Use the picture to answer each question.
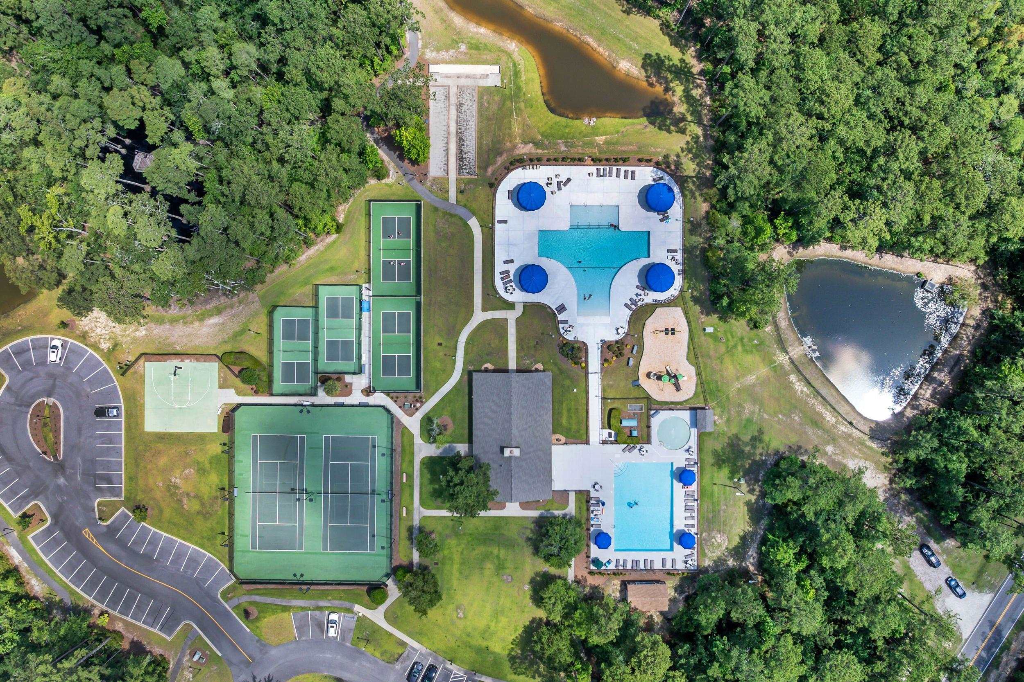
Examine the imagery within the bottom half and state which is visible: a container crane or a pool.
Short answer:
pool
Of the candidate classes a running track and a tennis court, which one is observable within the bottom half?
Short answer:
tennis court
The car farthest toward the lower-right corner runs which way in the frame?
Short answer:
diagonally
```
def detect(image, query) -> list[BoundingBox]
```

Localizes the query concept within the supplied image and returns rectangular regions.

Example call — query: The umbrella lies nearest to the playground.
[645,263,674,292]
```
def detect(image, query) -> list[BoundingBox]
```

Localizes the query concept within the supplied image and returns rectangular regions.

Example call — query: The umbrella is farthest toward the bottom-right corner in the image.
[679,533,695,549]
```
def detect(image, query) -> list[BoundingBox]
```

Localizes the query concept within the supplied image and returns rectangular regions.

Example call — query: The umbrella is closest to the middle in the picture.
[519,264,548,294]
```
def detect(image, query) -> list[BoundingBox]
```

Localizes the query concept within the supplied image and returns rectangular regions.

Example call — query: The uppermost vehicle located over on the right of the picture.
[920,544,939,569]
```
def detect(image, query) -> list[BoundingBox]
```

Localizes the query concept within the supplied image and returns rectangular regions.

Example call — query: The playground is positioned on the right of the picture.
[639,308,696,401]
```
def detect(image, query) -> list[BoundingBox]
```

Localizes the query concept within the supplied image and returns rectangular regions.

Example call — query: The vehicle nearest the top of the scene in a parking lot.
[50,339,64,363]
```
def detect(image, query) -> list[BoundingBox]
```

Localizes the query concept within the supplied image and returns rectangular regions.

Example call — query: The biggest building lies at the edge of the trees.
[472,373,552,503]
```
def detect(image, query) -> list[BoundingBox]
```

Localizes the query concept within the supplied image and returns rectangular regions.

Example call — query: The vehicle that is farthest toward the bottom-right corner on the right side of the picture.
[944,576,965,599]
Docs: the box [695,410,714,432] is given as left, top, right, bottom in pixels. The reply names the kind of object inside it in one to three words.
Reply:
building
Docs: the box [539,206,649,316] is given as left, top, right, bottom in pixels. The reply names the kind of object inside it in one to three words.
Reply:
swimming pool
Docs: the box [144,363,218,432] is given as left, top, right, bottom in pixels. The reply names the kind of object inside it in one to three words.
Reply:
basketball court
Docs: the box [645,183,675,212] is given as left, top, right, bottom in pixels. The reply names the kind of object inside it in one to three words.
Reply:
umbrella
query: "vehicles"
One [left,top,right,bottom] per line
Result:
[327,612,340,636]
[944,576,965,599]
[92,407,118,417]
[421,666,438,682]
[50,339,64,363]
[920,544,939,569]
[406,663,424,682]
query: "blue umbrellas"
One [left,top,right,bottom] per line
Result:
[679,533,695,549]
[645,263,674,292]
[645,183,675,212]
[595,533,611,549]
[517,182,546,211]
[679,470,695,485]
[519,264,548,294]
